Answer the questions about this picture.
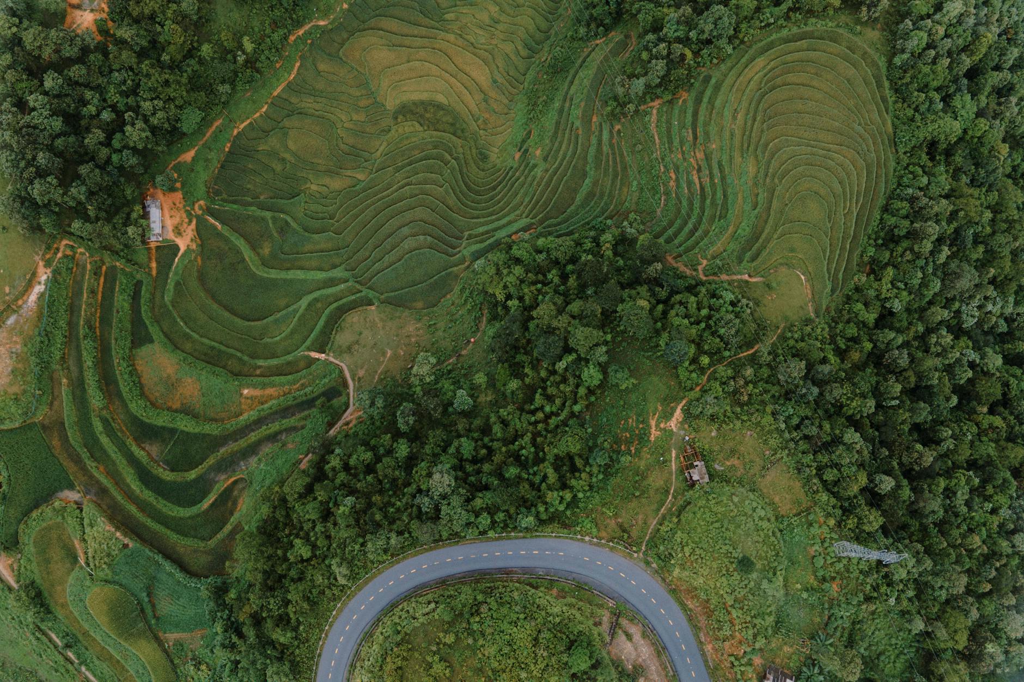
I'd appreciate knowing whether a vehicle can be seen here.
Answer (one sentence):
No, there's no vehicle here.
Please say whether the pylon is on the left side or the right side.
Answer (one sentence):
It is on the right.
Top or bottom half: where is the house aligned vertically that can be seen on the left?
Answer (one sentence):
The house aligned vertically that can be seen on the left sits in the top half of the picture.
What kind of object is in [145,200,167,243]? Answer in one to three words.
house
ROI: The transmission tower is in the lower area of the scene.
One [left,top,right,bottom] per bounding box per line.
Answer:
[831,541,906,563]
